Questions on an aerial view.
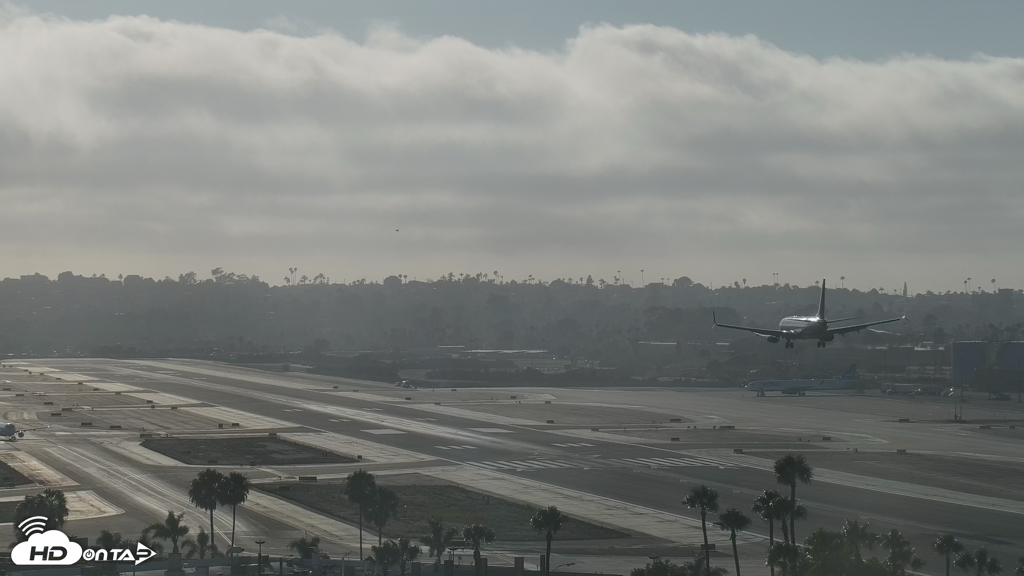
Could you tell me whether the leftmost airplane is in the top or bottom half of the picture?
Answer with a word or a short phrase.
bottom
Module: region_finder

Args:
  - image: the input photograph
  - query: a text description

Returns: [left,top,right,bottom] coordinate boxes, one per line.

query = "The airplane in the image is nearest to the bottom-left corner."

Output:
[0,418,44,440]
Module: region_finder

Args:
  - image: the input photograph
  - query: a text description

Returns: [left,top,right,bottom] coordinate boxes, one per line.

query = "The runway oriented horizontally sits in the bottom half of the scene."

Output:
[33,358,1024,576]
